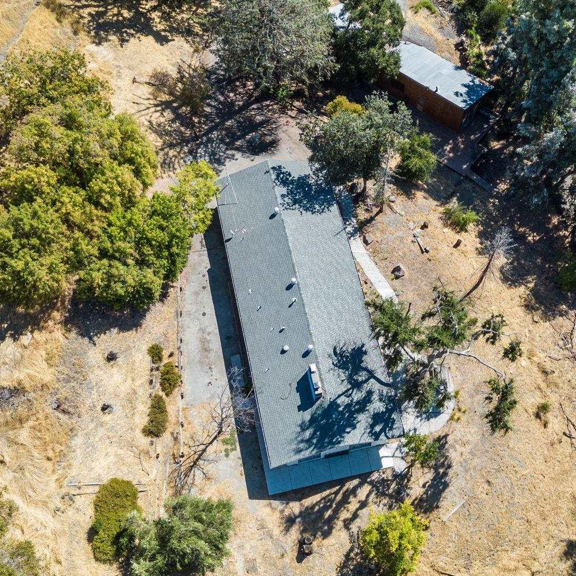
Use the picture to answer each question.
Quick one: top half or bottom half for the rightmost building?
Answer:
top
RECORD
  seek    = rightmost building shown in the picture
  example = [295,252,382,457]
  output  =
[394,37,494,131]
